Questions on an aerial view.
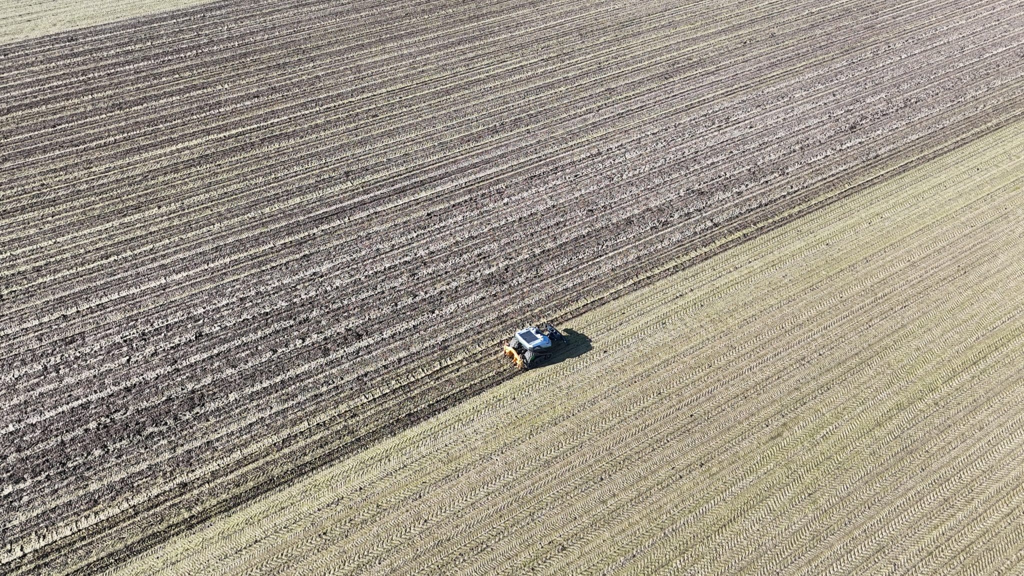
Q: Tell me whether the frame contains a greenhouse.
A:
No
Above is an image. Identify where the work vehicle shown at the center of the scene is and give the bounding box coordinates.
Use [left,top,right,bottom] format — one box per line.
[510,321,568,369]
